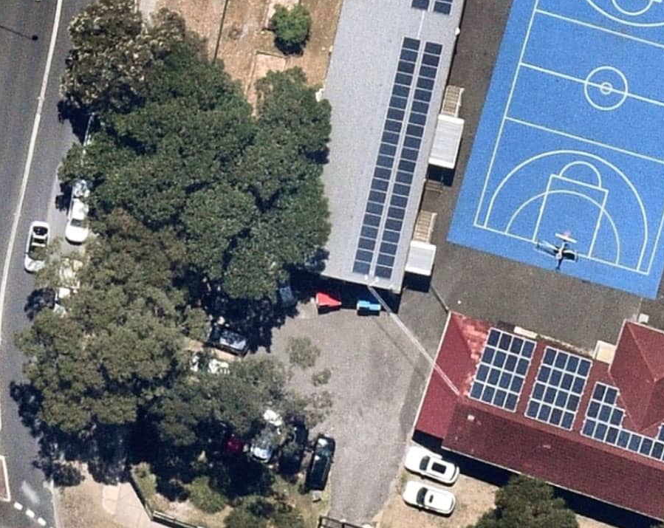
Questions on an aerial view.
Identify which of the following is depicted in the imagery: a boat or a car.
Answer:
car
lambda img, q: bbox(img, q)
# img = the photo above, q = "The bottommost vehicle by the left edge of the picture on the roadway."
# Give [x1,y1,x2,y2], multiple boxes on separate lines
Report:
[23,221,50,273]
